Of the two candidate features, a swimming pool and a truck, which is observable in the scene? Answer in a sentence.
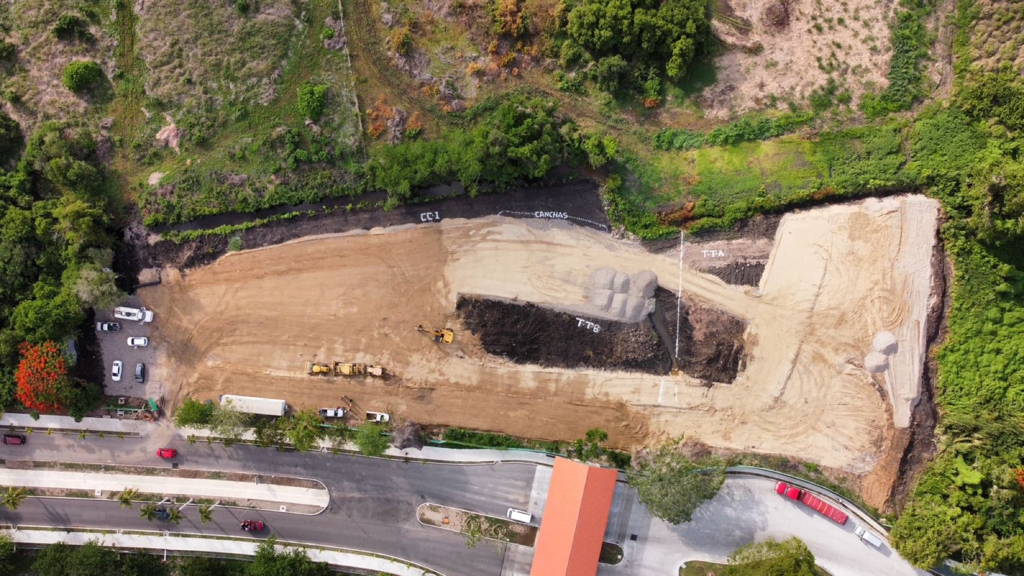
Of the two, only a truck appears.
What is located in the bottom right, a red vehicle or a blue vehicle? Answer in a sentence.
Looking in the bottom right, you will find a red vehicle.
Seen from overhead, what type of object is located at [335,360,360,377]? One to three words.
work vehicle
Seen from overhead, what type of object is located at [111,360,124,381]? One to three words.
vehicle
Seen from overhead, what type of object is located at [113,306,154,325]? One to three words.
vehicle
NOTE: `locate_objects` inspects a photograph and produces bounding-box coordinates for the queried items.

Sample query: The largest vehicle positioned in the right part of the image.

[773,480,849,525]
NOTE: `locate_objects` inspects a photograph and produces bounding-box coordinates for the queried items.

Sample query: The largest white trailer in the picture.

[221,393,293,415]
